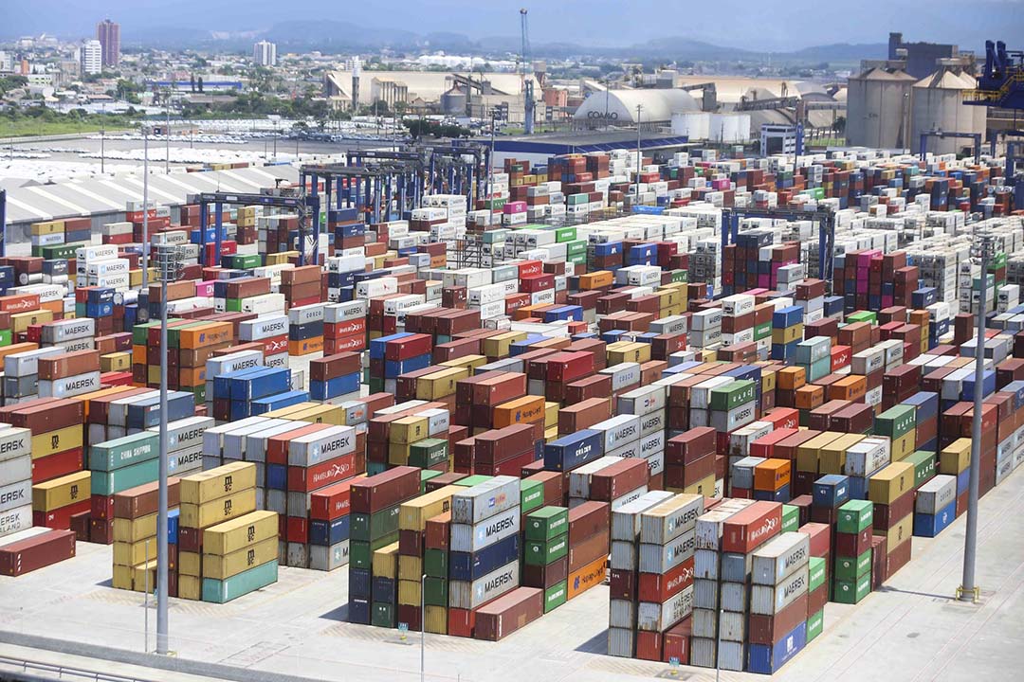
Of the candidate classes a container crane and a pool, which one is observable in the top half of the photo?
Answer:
container crane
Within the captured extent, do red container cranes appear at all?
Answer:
No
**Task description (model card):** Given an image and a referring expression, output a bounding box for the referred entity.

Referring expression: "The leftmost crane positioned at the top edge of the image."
[521,6,539,132]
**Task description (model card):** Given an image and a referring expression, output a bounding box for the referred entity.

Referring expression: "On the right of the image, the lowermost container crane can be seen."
[714,192,836,293]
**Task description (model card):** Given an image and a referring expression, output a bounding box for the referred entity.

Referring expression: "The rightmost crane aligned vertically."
[966,42,1024,199]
